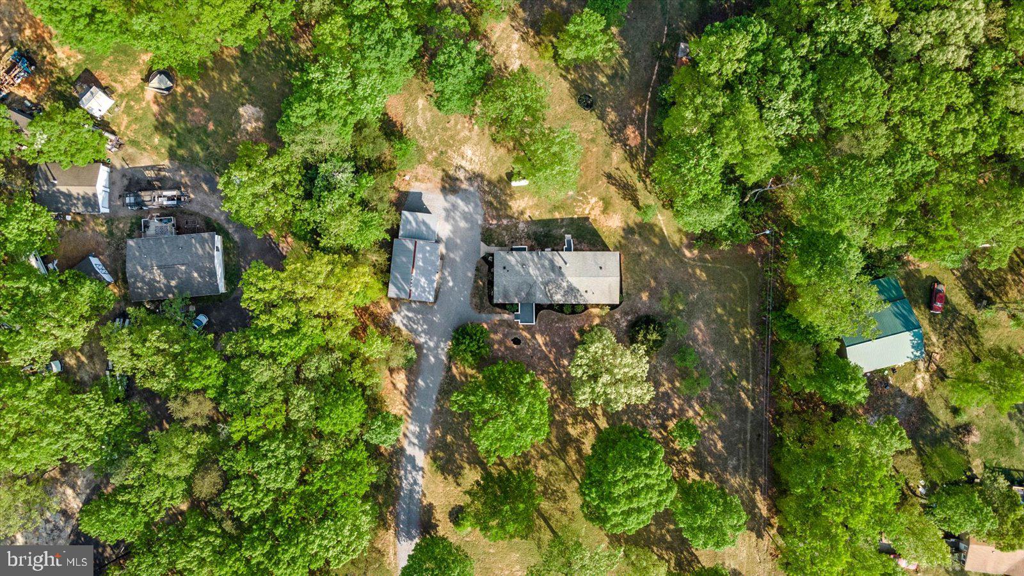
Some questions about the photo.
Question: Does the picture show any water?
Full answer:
No, water can't be seen anywhere here.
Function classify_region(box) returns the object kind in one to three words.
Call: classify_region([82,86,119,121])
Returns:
vehicle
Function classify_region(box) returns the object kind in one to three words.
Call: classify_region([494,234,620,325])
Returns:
house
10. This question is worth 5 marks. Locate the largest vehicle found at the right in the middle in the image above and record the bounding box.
[928,282,945,314]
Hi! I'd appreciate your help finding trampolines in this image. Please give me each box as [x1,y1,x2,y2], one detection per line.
[577,94,593,110]
[149,70,176,95]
